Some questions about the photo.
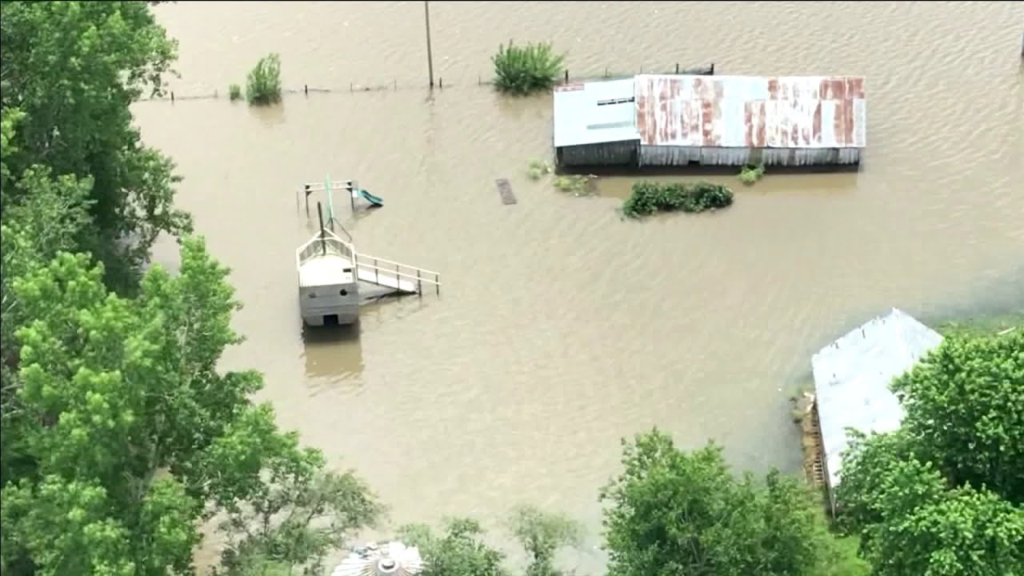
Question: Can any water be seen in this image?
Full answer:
Yes, there's water in this view.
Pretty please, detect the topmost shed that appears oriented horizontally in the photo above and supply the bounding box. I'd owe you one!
[555,74,866,177]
